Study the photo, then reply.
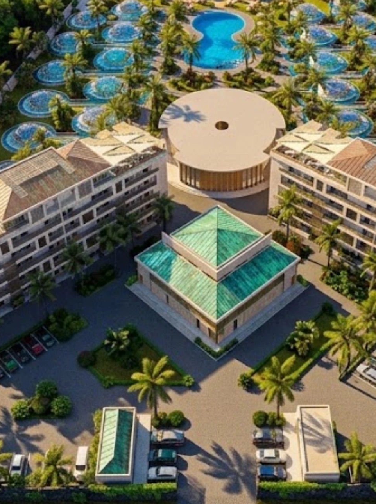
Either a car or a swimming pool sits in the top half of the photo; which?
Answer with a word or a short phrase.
swimming pool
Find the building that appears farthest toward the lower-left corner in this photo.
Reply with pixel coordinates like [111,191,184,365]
[95,407,137,487]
